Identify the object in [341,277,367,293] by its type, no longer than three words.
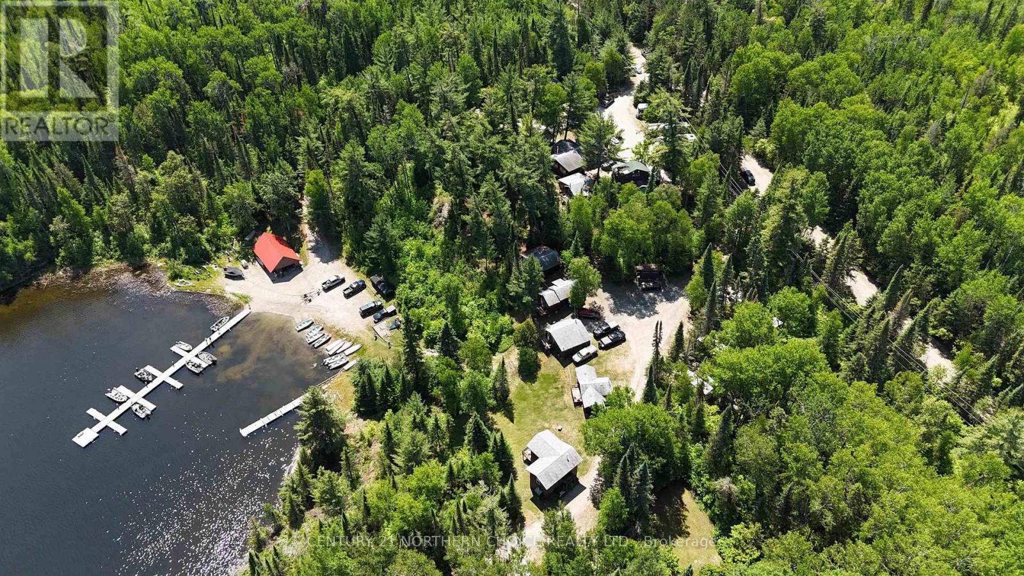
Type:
vehicle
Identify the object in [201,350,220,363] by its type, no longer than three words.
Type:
boat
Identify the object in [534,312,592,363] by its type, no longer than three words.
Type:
building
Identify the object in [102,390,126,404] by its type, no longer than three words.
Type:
boat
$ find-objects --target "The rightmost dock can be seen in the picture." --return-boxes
[238,392,310,437]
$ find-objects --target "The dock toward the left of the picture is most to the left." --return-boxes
[67,305,251,452]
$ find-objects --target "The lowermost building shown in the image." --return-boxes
[522,432,580,501]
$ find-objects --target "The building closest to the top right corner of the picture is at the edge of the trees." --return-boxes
[617,161,651,186]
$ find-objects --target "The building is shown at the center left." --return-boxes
[252,233,301,275]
